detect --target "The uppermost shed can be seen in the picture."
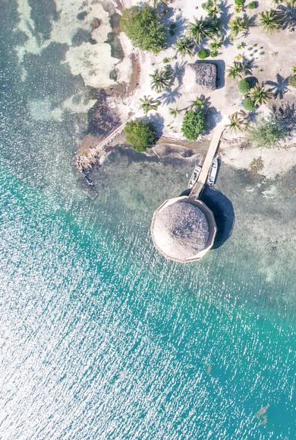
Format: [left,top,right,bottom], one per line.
[183,62,218,94]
